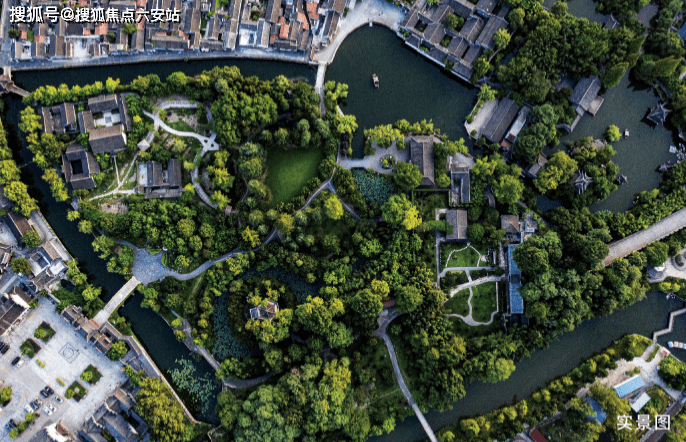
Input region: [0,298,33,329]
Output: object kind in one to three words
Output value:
house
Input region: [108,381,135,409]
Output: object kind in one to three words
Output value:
house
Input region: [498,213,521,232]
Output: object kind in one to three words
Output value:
building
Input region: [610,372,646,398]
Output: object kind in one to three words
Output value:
shed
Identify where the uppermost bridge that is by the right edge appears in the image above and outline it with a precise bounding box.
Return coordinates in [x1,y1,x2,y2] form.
[606,207,686,267]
